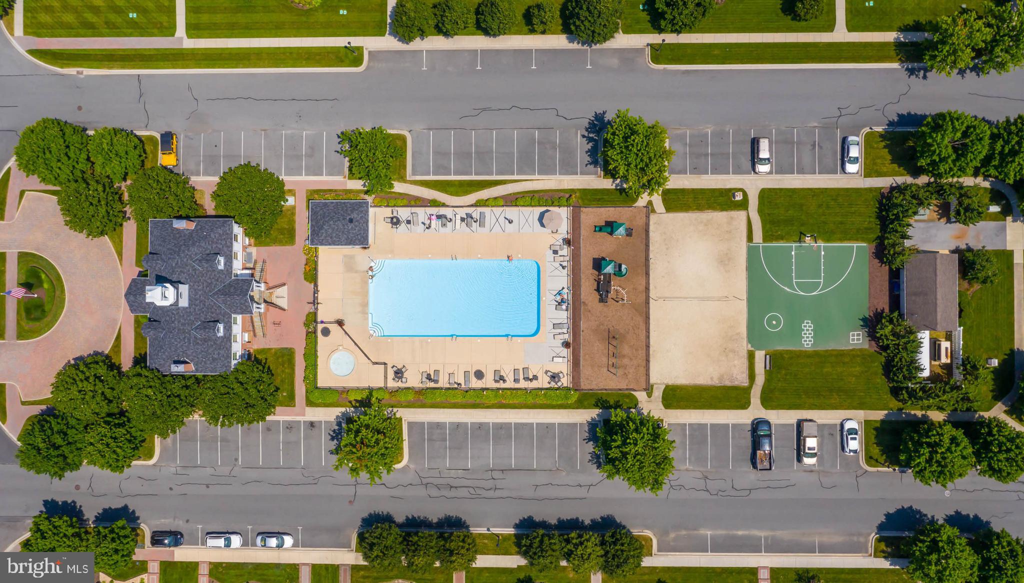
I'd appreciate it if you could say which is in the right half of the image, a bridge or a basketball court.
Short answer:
basketball court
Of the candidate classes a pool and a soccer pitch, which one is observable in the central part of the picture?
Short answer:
pool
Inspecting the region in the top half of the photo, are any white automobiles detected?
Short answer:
Yes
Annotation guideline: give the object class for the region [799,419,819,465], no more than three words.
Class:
vehicle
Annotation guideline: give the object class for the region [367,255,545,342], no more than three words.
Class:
swimming pool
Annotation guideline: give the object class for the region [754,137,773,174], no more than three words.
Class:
car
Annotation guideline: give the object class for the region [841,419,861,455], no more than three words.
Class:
car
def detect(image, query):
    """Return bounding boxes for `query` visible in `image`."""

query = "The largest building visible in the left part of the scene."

[123,218,290,375]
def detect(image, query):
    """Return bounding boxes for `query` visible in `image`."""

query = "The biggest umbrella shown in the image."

[543,211,563,231]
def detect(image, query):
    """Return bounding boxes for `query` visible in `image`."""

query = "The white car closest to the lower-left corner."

[205,531,242,550]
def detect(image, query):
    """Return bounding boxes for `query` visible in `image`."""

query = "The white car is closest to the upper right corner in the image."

[843,137,861,174]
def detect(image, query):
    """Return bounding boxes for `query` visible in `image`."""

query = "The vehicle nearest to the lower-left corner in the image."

[148,531,184,549]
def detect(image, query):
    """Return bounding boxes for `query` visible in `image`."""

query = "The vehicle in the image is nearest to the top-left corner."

[159,133,178,164]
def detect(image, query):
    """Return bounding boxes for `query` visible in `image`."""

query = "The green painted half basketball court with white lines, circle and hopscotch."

[748,242,869,351]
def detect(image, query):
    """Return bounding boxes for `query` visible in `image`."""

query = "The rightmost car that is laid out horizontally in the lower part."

[256,532,294,550]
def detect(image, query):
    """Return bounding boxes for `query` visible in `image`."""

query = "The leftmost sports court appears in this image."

[650,210,749,385]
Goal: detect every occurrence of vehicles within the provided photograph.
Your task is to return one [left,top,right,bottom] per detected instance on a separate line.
[754,137,773,174]
[754,421,774,471]
[841,419,861,455]
[256,532,294,550]
[205,531,242,550]
[159,133,178,164]
[148,531,184,549]
[843,137,861,174]
[799,419,819,465]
